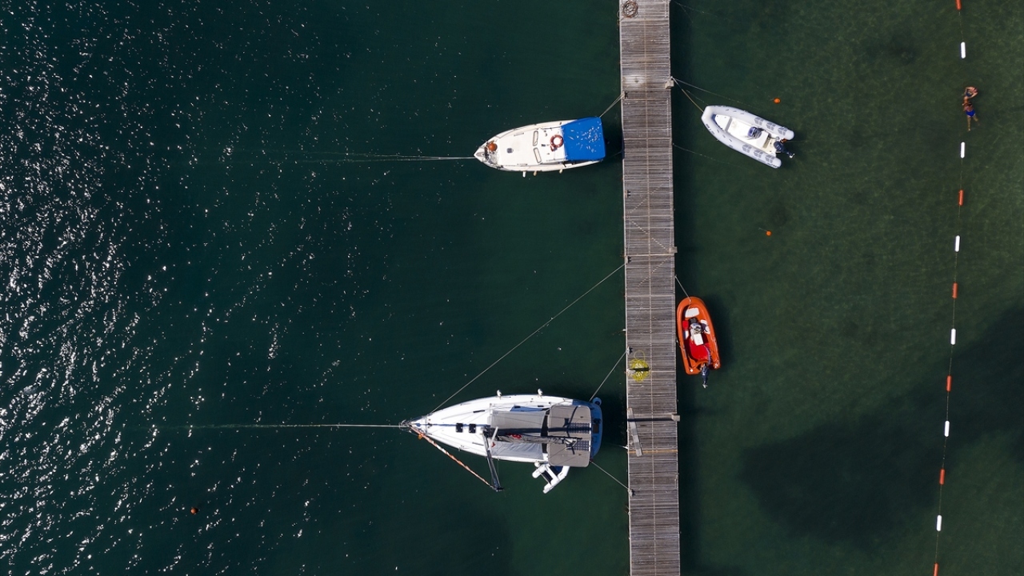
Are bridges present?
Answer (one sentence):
No, there appears to be no bridge in this shot.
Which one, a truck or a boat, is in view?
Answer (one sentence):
It is a boat that can be seen here.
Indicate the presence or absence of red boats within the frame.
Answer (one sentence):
Yes, there's a red boat down there.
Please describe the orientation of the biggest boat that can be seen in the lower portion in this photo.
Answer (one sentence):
The biggest boat that can be seen in the lower portion runs horizontally in the image.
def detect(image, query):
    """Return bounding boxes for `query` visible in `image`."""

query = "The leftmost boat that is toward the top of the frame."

[472,117,606,173]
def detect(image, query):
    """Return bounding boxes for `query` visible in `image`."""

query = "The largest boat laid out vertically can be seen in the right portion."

[677,297,720,390]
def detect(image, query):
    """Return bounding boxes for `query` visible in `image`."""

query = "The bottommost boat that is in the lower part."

[532,462,571,493]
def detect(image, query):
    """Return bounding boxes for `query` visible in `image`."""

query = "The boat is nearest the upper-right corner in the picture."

[703,104,798,168]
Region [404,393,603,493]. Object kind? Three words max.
boat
